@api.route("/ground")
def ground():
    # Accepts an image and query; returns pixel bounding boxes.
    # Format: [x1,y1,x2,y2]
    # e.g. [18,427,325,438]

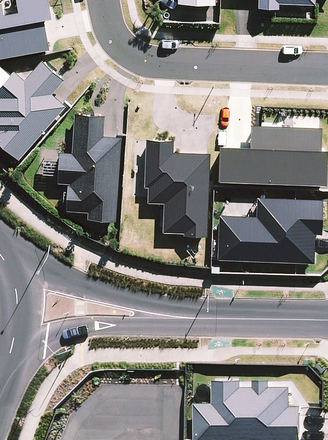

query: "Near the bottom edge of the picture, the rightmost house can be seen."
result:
[192,380,299,440]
